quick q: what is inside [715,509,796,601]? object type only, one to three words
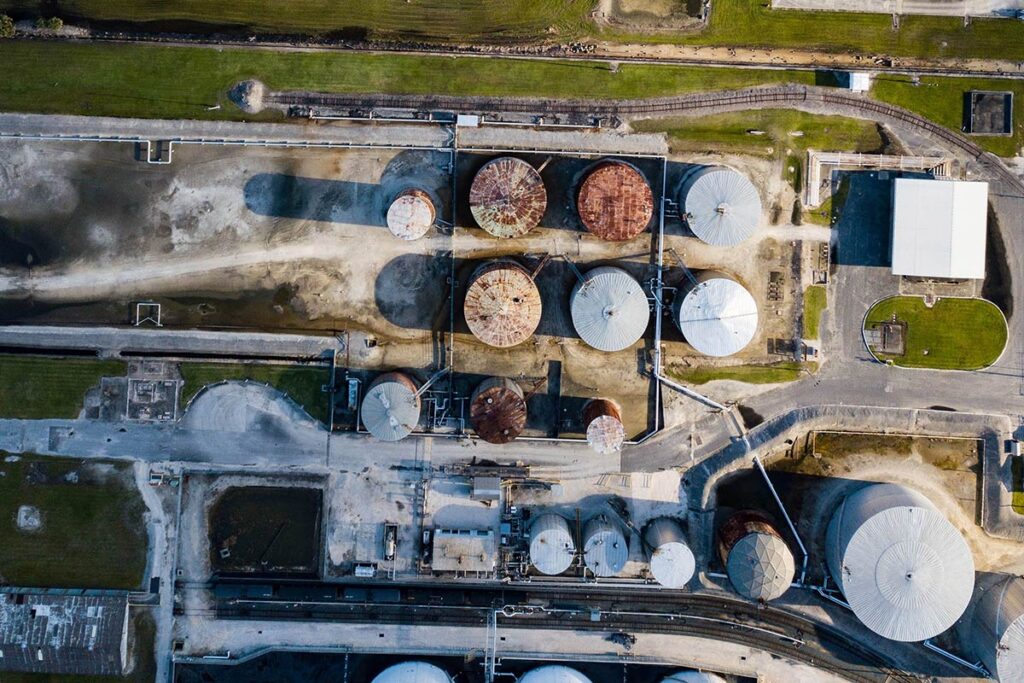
storage tank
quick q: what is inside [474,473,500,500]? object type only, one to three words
shed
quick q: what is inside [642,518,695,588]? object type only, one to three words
storage tank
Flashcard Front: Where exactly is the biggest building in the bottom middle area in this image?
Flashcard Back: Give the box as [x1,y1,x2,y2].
[433,530,494,571]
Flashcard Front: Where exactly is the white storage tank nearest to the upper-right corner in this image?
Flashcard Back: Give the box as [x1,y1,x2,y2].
[676,163,762,247]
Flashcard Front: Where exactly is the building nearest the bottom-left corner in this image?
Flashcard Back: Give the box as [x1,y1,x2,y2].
[0,581,135,675]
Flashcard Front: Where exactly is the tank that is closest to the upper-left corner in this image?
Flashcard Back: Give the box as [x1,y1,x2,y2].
[387,186,451,240]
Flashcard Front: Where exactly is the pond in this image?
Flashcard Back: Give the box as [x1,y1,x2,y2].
[214,486,322,572]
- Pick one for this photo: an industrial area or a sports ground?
industrial area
